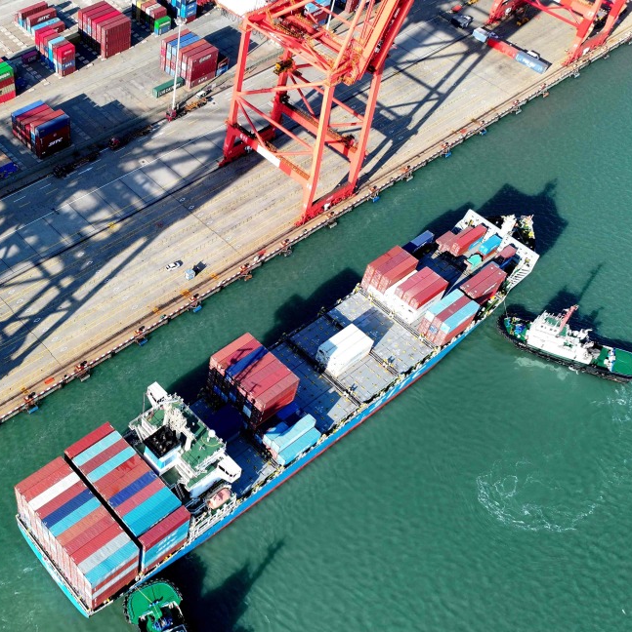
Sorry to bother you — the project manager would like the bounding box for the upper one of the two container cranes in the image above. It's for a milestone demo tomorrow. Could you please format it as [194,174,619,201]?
[490,0,630,65]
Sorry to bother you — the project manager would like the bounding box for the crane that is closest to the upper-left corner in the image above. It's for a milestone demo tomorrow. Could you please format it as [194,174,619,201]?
[203,0,420,230]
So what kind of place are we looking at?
port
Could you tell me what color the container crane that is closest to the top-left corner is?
red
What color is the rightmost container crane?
red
